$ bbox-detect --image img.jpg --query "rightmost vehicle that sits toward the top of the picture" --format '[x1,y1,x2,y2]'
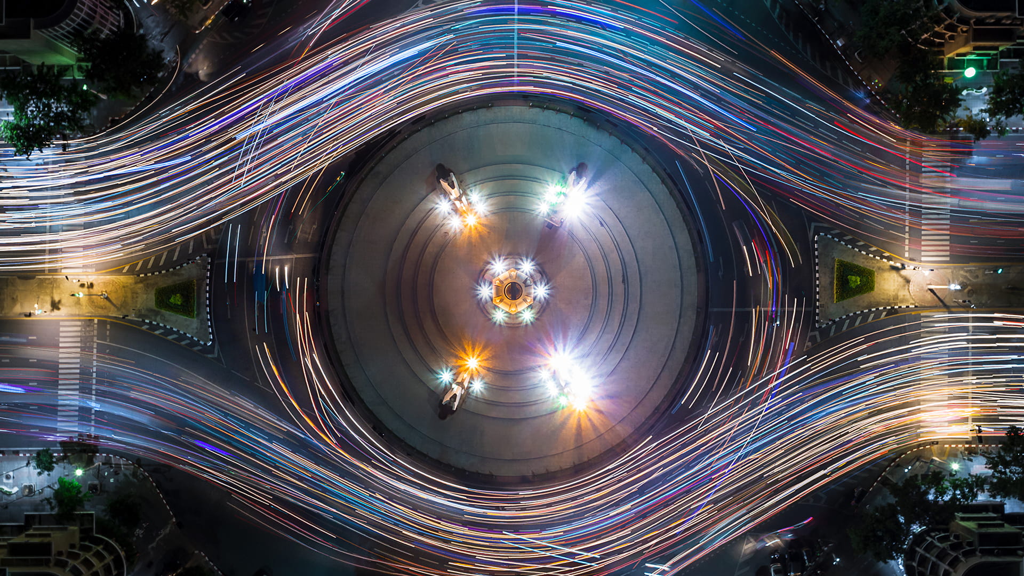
[958,174,1019,189]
